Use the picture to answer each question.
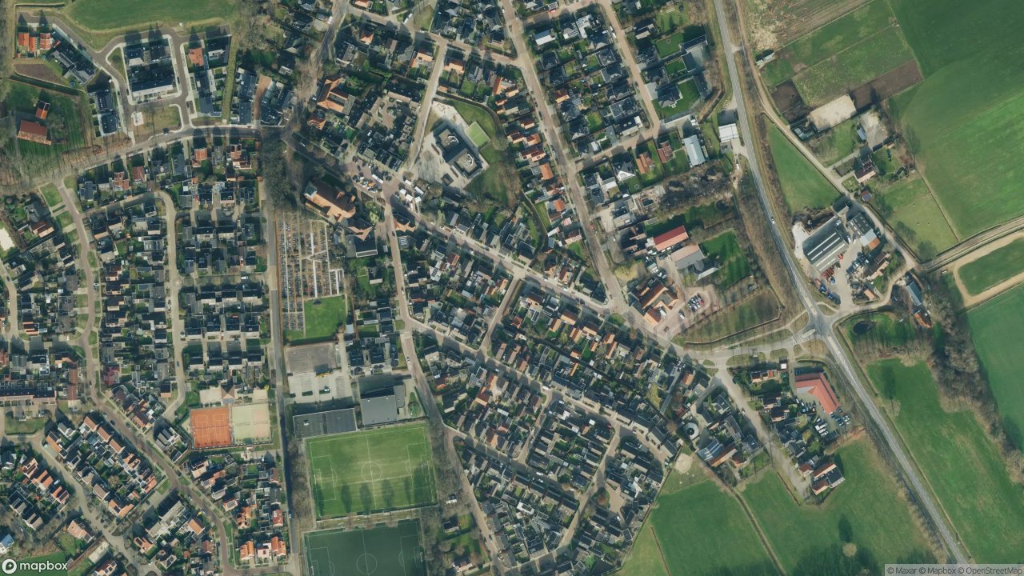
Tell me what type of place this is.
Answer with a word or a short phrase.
residential area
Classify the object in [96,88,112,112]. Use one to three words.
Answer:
house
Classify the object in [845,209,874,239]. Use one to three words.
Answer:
building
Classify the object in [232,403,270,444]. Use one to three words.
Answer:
tennis court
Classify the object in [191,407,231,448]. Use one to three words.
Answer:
tennis court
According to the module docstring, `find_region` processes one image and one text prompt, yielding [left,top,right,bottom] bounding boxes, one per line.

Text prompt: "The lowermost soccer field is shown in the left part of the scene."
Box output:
[304,519,424,576]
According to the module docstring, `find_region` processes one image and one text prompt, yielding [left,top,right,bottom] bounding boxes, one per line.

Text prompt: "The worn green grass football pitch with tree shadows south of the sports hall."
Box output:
[305,423,437,521]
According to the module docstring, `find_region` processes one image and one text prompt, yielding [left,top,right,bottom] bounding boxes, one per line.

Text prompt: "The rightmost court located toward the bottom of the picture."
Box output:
[286,342,336,373]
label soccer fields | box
[305,423,437,521]
[304,519,424,576]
